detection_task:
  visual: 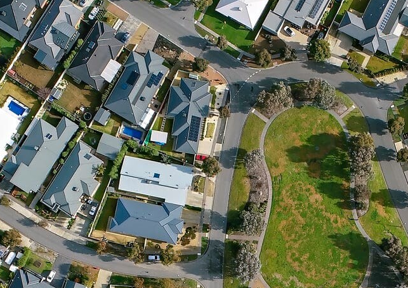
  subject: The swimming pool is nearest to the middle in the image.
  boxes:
[119,125,144,142]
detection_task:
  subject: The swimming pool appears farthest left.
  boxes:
[4,102,26,118]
